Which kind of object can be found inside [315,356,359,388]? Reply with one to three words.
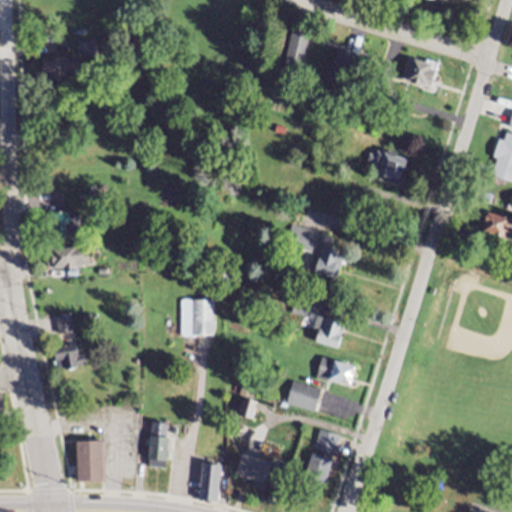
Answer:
house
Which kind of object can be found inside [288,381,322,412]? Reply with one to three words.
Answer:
building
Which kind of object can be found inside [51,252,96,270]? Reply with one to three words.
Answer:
house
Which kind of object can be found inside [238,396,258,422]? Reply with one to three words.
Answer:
building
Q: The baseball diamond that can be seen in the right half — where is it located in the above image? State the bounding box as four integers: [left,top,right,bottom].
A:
[428,270,512,444]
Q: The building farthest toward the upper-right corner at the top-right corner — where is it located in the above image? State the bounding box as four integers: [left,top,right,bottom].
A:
[413,56,444,91]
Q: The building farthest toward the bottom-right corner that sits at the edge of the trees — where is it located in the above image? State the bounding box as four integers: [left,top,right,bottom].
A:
[310,430,337,483]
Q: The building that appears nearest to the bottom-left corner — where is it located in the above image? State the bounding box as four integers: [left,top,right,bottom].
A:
[76,442,102,482]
